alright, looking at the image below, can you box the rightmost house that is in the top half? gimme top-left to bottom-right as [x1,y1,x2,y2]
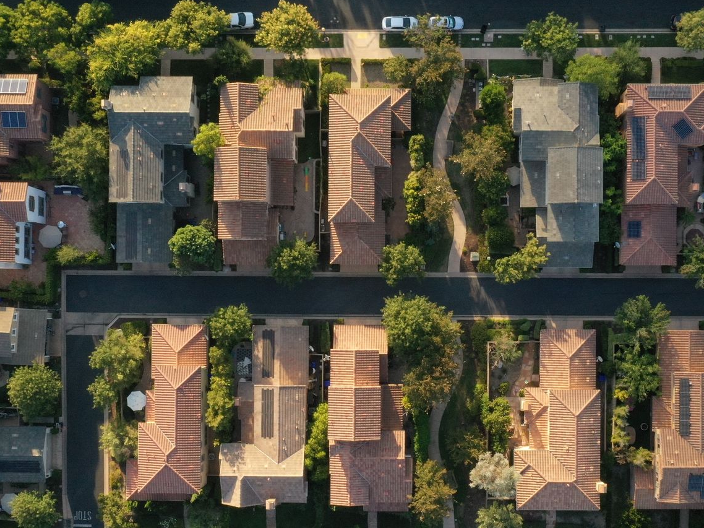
[605,82,704,267]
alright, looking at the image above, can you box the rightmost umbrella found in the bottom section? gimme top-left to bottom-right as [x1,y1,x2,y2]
[128,390,145,410]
